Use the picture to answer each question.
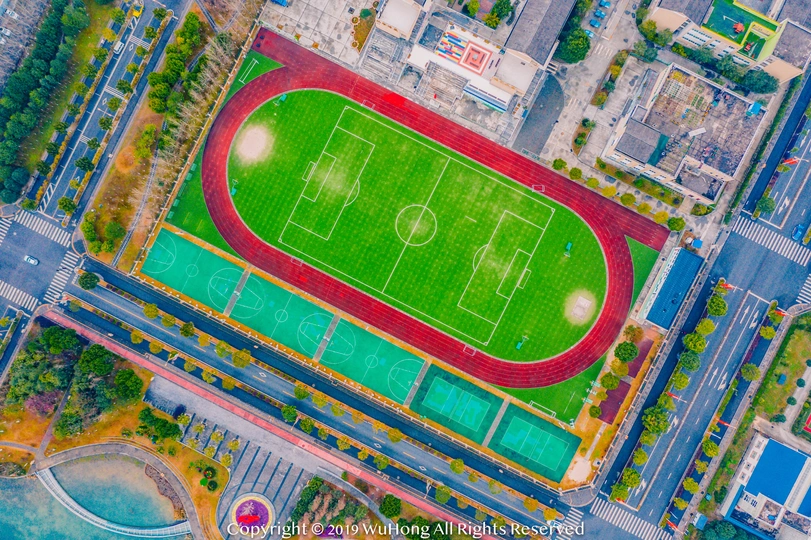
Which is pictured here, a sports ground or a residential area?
sports ground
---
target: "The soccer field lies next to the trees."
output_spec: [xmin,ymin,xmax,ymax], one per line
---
[227,89,606,361]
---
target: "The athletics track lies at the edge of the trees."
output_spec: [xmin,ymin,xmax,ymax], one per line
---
[198,27,671,390]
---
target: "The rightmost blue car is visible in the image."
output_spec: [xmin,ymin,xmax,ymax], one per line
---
[791,226,804,241]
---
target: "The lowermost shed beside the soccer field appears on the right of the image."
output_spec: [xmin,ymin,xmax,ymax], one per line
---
[636,247,704,331]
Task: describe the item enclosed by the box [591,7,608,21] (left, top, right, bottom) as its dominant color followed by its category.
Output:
blue vehicle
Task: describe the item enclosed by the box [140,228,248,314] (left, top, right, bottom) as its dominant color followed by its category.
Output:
green basketball court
